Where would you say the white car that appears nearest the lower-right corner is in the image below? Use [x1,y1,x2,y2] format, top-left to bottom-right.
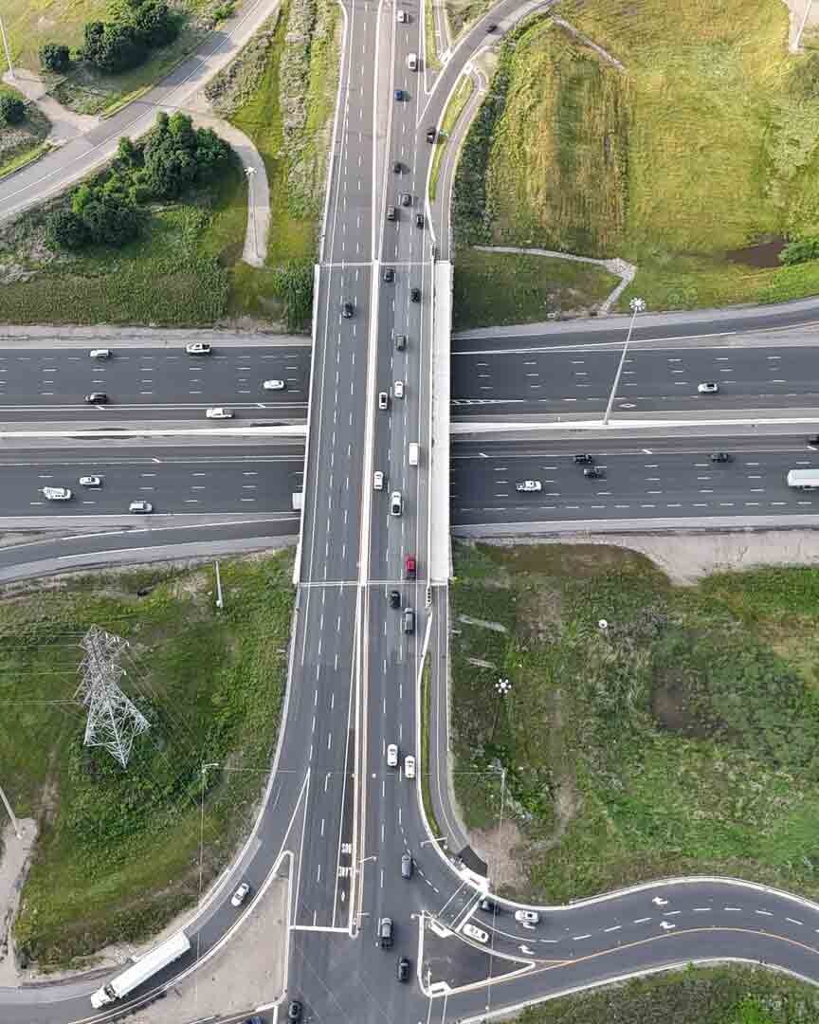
[515,910,540,924]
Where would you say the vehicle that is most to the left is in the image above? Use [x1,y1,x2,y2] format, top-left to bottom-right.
[40,487,71,500]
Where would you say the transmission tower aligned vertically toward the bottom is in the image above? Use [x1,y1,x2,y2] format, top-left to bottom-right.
[58,617,149,765]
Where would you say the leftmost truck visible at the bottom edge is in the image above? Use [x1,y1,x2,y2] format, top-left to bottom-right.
[83,924,197,1013]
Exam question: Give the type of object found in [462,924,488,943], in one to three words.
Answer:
car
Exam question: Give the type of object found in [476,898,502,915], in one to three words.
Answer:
car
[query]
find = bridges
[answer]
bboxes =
[289,244,455,611]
